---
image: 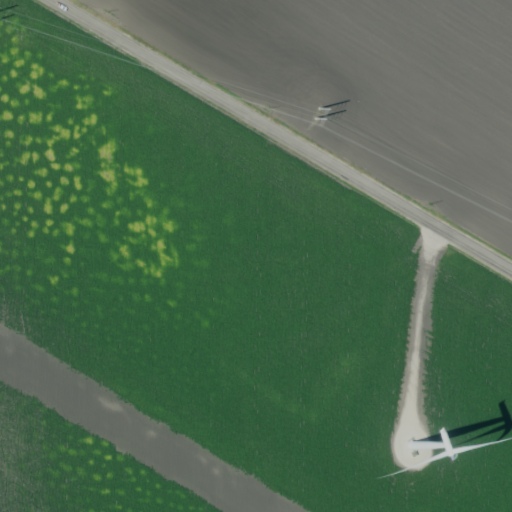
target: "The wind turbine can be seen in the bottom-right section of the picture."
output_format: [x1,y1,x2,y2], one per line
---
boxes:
[380,428,512,480]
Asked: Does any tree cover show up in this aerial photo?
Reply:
No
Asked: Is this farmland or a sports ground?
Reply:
farmland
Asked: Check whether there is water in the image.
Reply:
No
